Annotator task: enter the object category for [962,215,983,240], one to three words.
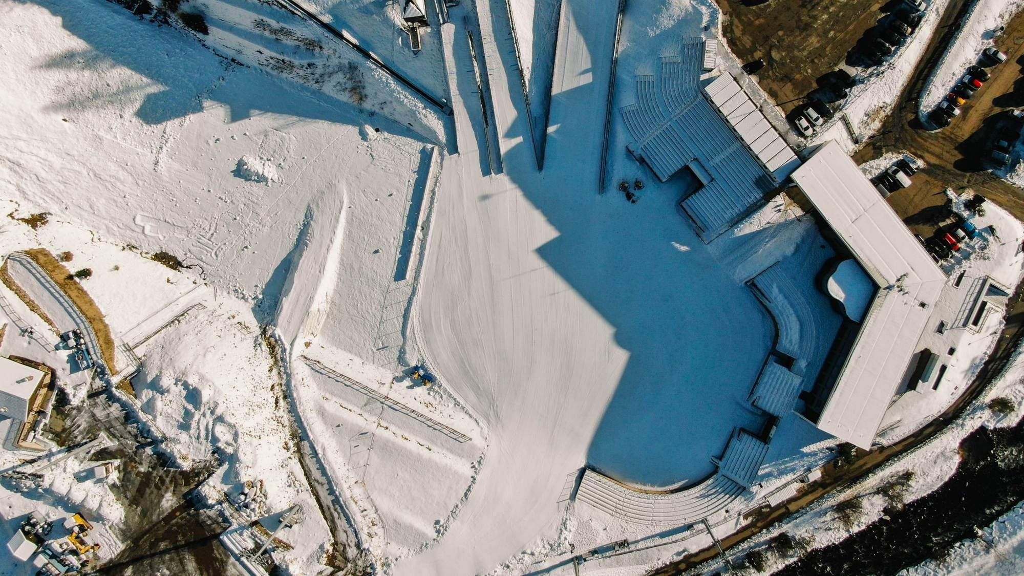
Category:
vehicle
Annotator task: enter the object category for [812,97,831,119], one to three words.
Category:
car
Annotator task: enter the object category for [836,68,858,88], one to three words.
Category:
car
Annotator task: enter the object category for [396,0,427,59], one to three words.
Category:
building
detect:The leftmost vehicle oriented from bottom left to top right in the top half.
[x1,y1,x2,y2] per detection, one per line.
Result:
[743,58,765,75]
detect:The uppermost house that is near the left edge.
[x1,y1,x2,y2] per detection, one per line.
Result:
[0,354,59,453]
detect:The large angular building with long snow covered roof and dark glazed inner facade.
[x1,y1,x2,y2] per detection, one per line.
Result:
[770,140,947,450]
